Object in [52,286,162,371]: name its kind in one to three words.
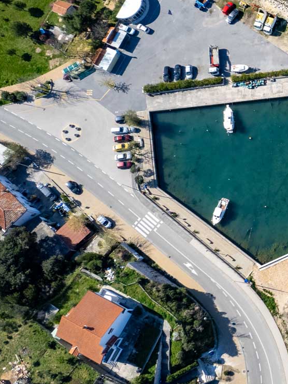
house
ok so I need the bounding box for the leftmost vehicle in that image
[36,182,56,200]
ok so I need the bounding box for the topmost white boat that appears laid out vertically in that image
[223,102,237,134]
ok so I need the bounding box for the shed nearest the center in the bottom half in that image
[56,220,96,249]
